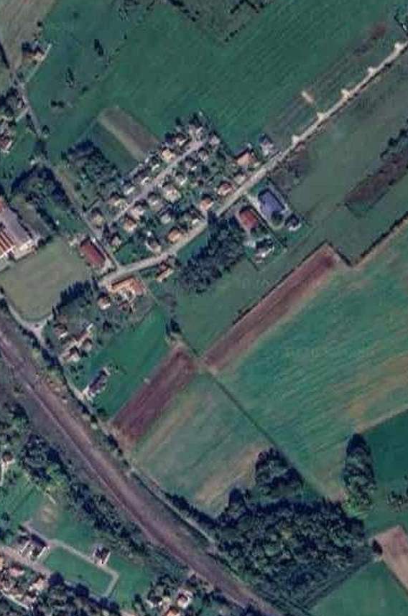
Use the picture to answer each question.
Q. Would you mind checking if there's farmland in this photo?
Yes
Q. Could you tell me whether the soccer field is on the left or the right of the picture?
left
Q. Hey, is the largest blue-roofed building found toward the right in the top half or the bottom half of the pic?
top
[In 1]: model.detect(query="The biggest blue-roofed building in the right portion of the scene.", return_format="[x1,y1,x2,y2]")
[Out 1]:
[260,189,285,216]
